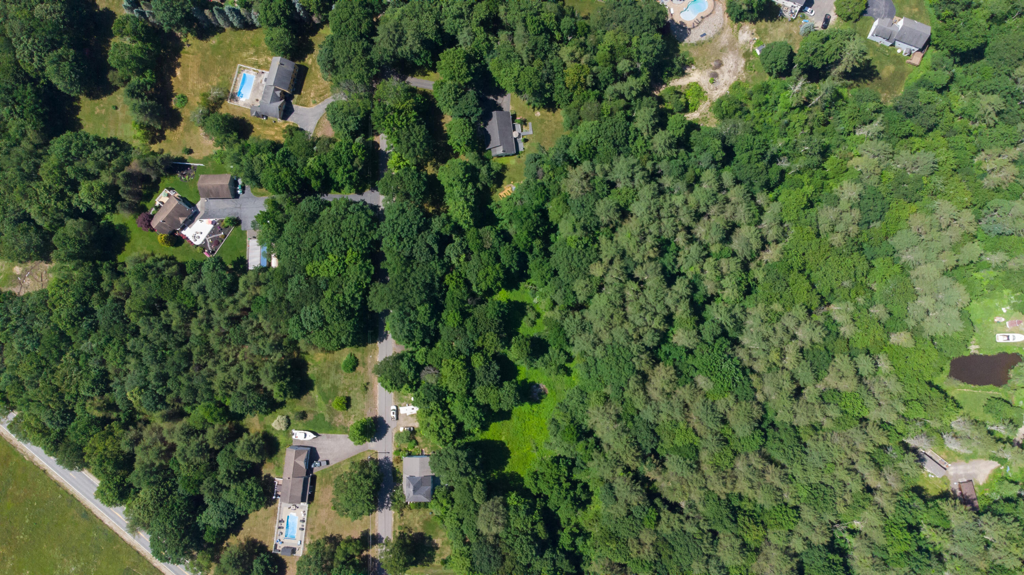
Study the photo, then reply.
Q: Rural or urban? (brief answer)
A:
rural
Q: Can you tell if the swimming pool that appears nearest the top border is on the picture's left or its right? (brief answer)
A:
right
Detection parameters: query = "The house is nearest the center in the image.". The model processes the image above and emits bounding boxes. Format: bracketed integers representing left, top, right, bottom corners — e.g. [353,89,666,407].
[482,110,533,157]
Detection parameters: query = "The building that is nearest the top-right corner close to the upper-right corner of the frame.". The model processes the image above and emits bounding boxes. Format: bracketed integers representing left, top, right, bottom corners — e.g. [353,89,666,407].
[868,16,931,67]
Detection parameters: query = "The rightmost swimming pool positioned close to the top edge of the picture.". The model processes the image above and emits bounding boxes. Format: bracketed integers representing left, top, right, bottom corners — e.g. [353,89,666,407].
[680,0,709,21]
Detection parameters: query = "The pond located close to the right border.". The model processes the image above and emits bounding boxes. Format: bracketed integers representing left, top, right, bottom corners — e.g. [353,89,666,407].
[950,352,1019,386]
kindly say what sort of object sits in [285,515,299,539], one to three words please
swimming pool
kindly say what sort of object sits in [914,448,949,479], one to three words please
house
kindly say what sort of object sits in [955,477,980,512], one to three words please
barn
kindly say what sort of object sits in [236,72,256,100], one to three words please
swimming pool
